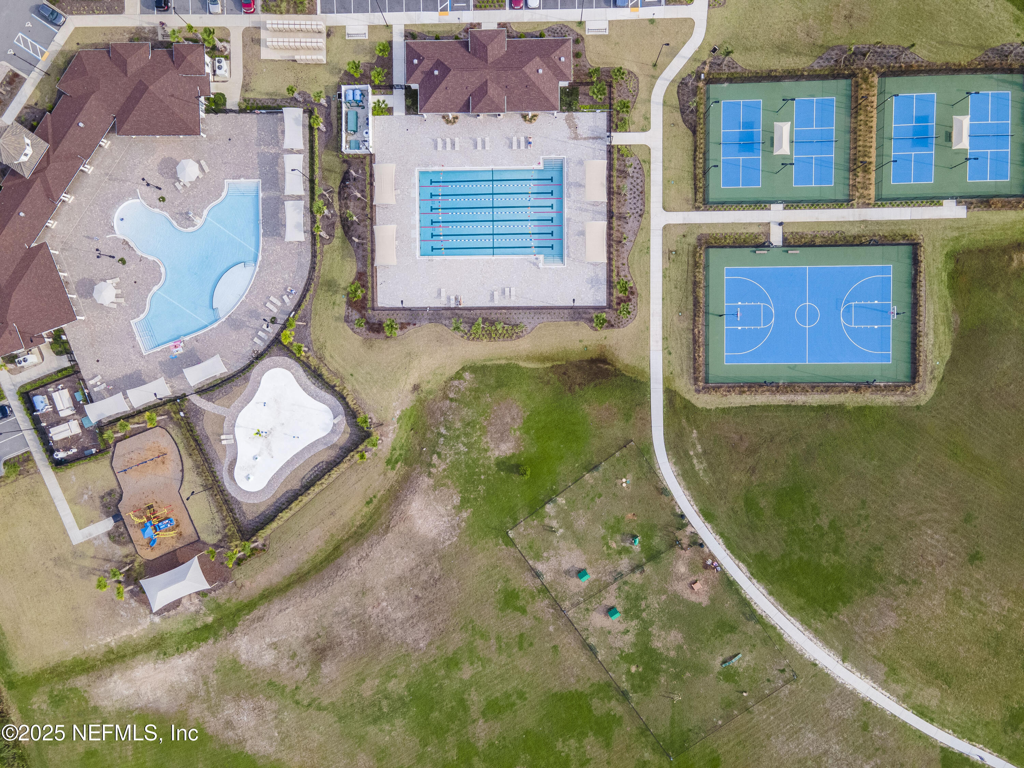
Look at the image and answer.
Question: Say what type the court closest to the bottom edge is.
basketball court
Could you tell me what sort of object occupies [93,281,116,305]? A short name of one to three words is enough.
umbrella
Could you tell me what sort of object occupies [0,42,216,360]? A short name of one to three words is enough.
building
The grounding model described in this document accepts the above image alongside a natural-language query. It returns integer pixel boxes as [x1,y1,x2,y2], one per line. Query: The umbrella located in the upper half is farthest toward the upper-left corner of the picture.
[176,158,199,182]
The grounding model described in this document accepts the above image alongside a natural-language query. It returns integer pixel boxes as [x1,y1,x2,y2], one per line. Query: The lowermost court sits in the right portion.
[705,245,913,383]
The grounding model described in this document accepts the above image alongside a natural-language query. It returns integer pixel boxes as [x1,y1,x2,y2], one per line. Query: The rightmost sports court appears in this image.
[875,74,1024,201]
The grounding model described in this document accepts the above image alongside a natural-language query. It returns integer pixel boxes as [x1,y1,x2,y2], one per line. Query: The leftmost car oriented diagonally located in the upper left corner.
[32,1,63,25]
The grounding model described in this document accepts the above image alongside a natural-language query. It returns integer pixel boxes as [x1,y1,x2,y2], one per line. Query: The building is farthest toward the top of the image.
[404,28,573,118]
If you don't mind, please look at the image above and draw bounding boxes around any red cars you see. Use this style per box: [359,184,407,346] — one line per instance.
[511,0,523,7]
[239,0,255,12]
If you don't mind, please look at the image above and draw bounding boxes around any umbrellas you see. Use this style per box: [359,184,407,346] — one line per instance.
[176,158,199,182]
[93,281,116,305]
